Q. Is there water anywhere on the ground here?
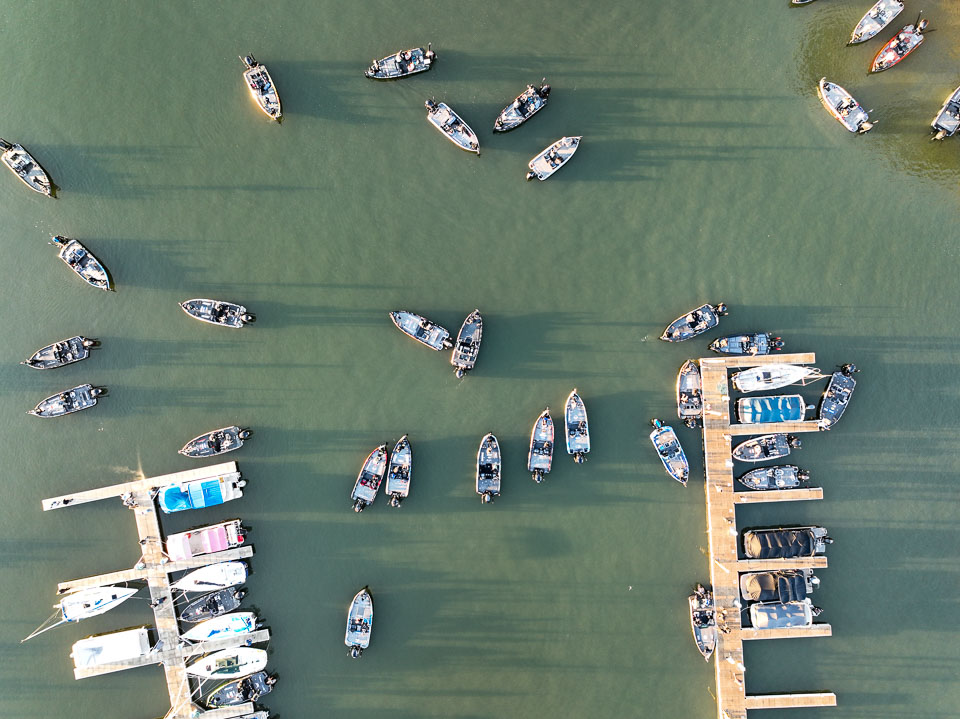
Yes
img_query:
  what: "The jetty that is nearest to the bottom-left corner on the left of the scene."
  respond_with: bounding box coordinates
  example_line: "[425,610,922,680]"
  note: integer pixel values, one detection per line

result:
[42,461,271,719]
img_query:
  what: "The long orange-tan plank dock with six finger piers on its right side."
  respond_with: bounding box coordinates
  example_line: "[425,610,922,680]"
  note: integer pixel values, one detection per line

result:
[698,351,837,719]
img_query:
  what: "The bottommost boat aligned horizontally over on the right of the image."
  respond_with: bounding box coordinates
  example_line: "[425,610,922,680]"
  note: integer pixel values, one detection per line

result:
[748,601,822,631]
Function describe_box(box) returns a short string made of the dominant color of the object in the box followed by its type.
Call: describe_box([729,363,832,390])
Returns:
white boat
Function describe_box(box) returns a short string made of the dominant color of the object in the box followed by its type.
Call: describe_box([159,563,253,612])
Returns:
white boat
